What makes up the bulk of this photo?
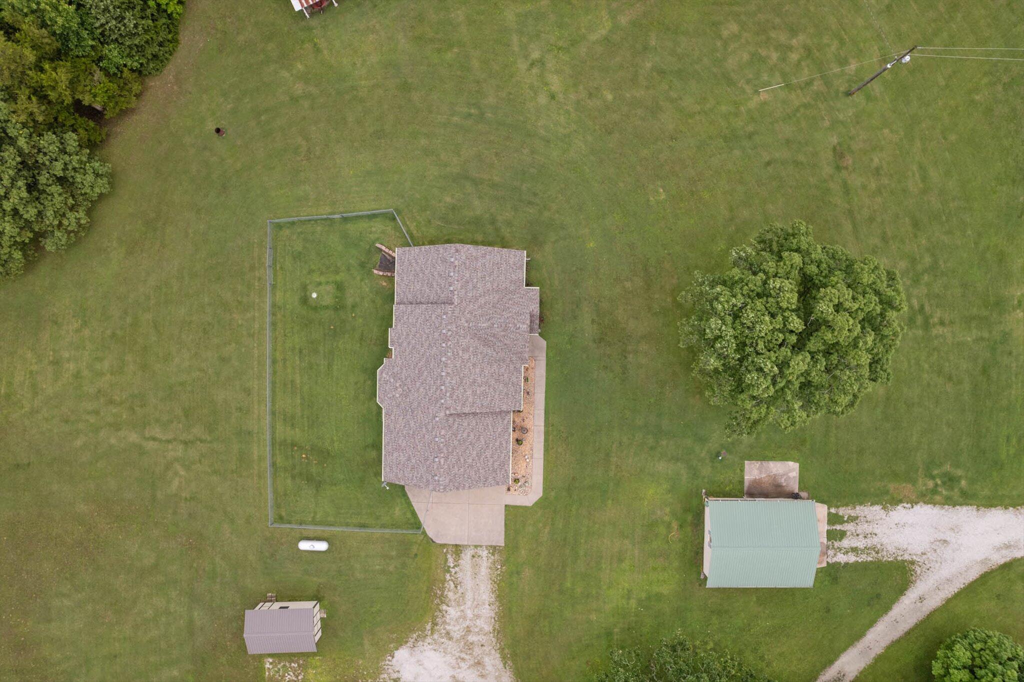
grass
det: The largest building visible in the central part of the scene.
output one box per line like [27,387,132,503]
[376,244,540,492]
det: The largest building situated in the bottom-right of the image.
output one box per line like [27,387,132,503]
[703,496,828,588]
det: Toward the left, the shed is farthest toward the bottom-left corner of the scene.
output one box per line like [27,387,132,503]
[243,601,322,654]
